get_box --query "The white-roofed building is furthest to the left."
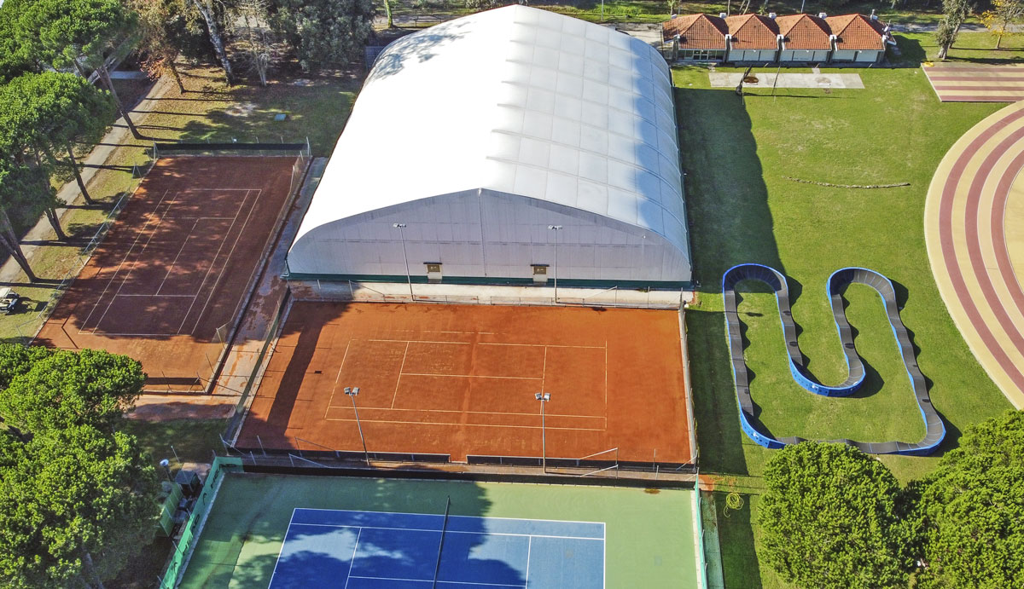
[283,4,704,290]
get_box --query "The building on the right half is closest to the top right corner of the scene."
[658,4,904,65]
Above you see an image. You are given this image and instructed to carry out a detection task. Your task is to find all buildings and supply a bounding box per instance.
[658,4,904,65]
[283,4,704,290]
